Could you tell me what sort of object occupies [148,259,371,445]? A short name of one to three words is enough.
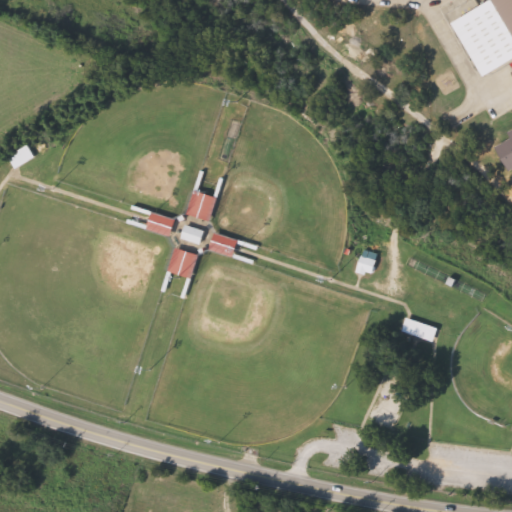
baseball field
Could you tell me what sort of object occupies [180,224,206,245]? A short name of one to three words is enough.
building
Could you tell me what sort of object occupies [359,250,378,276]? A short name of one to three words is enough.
building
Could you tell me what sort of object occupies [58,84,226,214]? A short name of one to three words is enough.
baseball field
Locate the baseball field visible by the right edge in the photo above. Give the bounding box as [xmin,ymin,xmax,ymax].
[452,310,512,426]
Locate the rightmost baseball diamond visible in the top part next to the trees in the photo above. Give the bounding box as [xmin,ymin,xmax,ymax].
[214,101,346,272]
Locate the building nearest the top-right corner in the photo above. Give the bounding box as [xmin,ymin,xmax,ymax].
[451,0,512,76]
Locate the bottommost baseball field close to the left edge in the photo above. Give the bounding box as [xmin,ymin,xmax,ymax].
[0,184,168,413]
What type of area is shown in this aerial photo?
sports ground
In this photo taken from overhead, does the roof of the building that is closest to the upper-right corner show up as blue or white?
white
